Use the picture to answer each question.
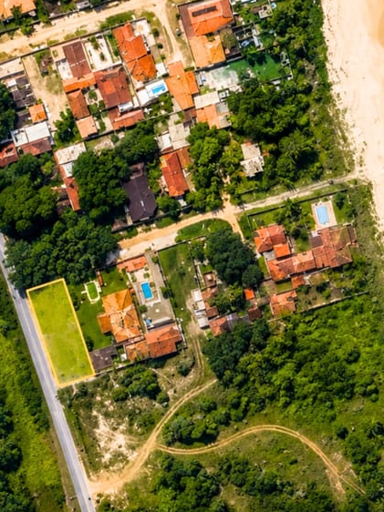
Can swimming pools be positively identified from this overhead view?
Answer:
Yes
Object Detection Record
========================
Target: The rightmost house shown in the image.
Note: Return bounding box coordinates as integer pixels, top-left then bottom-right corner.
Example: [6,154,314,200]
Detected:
[310,224,358,269]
